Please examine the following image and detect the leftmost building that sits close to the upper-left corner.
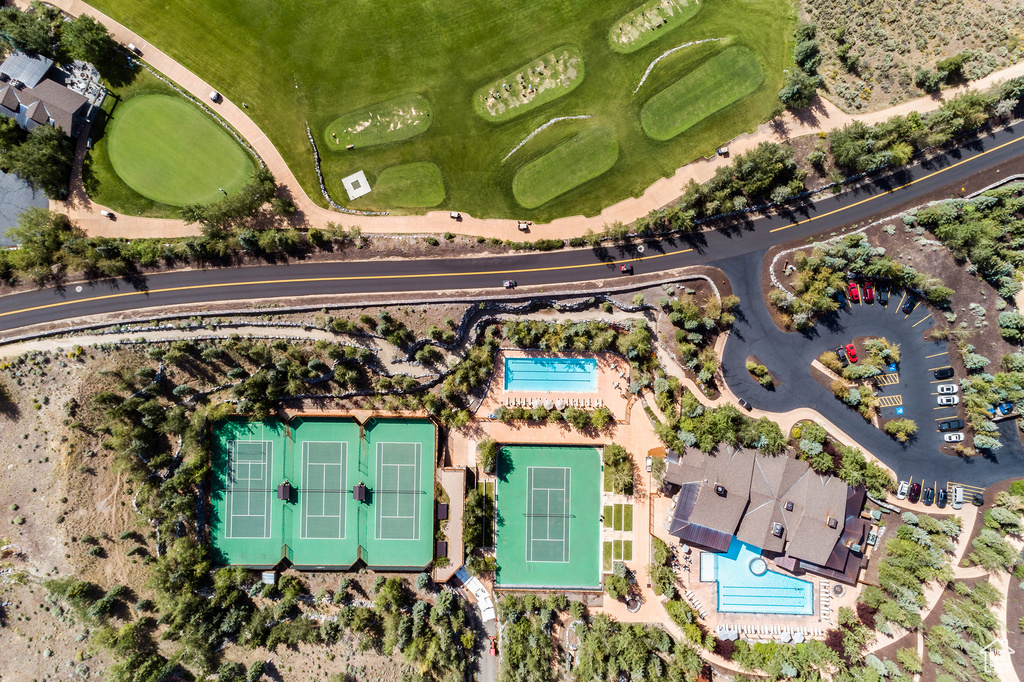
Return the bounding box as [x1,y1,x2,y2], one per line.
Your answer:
[0,51,95,138]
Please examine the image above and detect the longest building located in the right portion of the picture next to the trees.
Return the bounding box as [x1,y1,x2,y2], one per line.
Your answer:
[664,445,871,585]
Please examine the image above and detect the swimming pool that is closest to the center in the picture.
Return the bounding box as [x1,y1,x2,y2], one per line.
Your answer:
[504,357,598,393]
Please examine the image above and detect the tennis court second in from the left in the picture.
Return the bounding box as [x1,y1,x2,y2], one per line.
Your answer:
[285,417,361,566]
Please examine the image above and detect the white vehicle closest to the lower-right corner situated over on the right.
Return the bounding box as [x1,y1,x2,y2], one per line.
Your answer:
[951,485,964,509]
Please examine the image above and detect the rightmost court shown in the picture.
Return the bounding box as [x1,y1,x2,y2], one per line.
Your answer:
[496,445,602,586]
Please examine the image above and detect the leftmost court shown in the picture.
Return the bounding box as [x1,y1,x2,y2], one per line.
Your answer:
[210,417,285,566]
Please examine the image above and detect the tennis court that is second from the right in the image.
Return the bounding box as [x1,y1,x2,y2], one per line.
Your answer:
[359,419,434,566]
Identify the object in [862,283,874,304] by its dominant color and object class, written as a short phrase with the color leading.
red vehicle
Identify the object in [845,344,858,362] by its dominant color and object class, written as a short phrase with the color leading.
red vehicle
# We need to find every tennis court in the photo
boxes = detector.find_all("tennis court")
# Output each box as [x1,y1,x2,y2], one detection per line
[496,445,602,586]
[210,417,285,566]
[359,419,434,566]
[285,417,361,566]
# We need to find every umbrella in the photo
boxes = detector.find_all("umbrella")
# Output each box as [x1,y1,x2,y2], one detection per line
[532,399,542,408]
[779,630,791,642]
[727,629,738,641]
[717,628,728,640]
[544,399,553,409]
[555,399,565,409]
[792,631,804,643]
